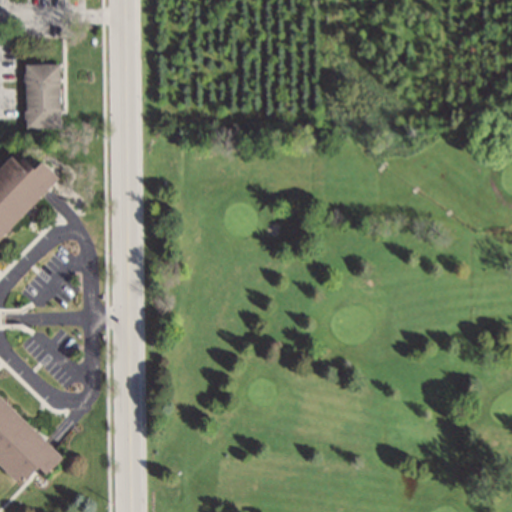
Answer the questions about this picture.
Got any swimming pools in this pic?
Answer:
No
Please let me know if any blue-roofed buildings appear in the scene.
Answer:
No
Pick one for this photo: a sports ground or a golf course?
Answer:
golf course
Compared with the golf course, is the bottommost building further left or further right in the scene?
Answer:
on its left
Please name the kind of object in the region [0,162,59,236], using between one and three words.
building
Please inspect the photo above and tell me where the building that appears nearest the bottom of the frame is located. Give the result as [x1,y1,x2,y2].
[0,397,63,479]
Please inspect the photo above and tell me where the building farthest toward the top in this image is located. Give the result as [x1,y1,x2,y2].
[24,64,64,130]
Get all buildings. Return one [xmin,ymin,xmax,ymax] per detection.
[24,64,64,130]
[0,397,63,479]
[0,162,59,236]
